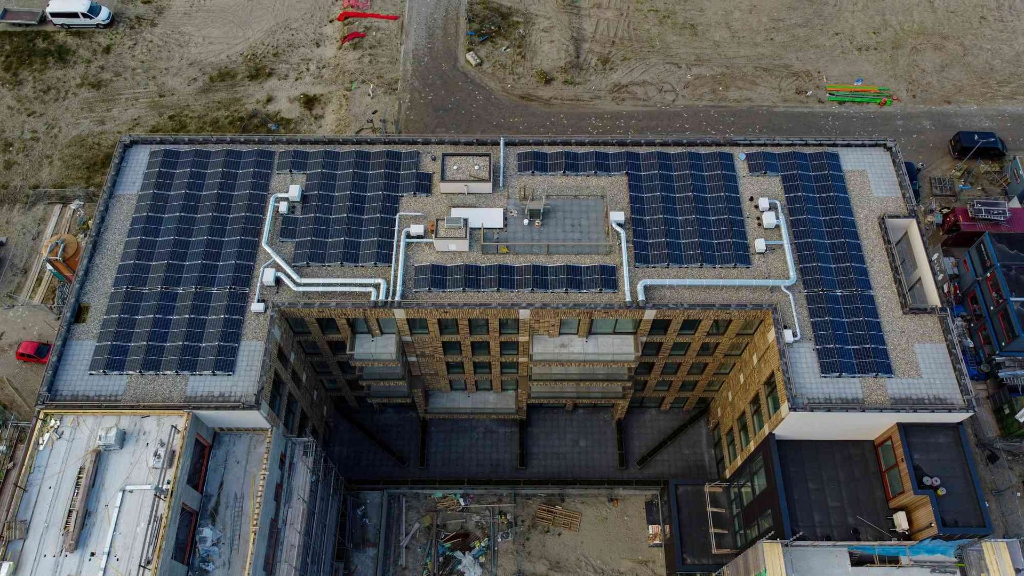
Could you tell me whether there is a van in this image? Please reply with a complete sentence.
Yes, the image includes a van.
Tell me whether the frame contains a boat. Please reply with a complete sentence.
No, the scene contains no boat.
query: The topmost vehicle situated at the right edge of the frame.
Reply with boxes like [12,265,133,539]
[947,127,1009,157]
